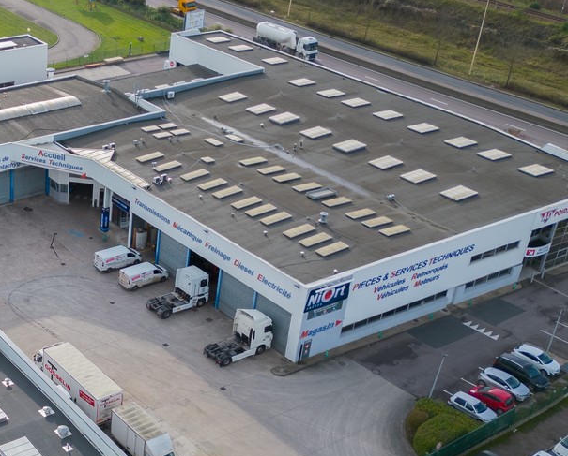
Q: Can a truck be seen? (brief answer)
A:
Yes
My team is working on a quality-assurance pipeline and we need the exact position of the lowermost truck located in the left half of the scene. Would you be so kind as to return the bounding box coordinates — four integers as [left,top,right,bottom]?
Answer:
[110,402,173,456]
